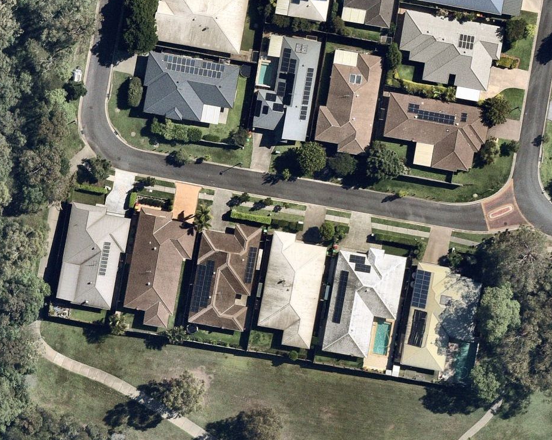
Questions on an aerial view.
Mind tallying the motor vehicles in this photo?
0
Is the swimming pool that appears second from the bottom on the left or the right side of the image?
right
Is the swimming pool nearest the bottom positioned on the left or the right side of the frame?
right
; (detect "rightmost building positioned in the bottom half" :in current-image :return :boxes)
[401,262,484,372]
